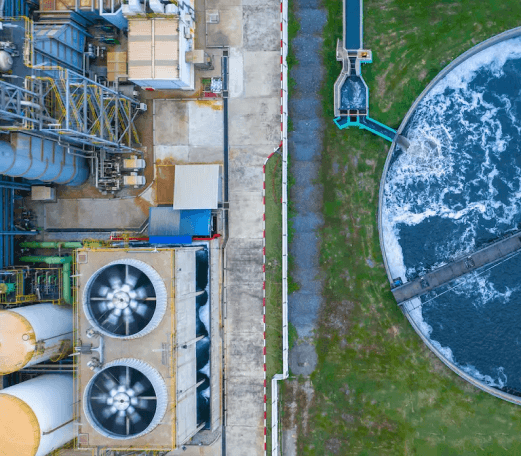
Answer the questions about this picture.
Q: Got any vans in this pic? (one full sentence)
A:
No, the scene contains no van.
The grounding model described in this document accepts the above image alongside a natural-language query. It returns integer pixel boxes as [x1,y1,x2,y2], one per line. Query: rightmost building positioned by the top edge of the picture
[127,0,205,89]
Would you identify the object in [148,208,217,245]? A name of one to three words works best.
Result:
shed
